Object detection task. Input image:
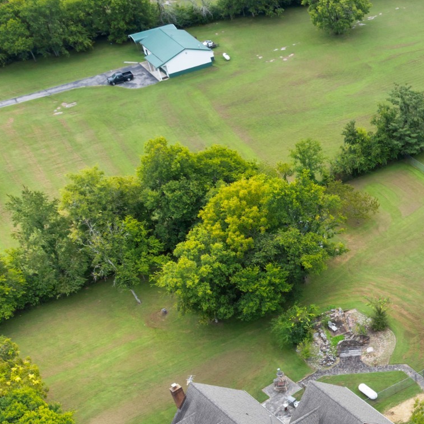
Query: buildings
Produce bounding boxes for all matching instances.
[167,375,390,424]
[137,27,213,80]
